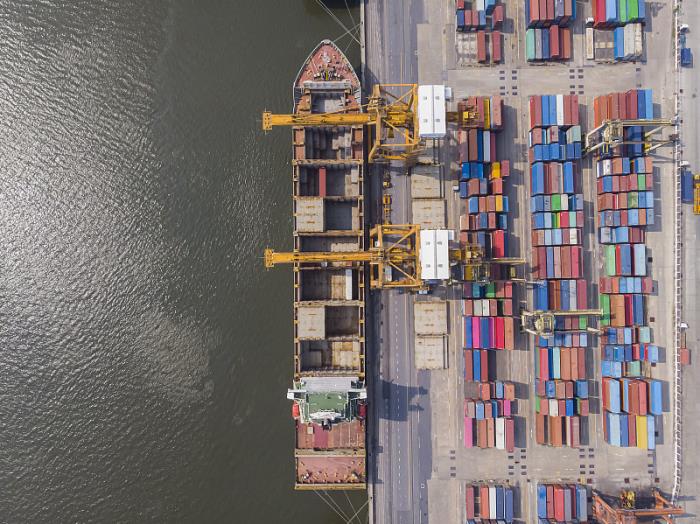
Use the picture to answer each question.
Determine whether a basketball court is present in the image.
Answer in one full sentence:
No, there appears to be no basketball court in this shot.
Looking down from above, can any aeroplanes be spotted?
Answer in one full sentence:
No, the frame has no aeroplane in it.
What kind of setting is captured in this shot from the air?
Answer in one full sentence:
What you see here is a port.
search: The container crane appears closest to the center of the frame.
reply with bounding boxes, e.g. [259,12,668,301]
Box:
[262,223,482,292]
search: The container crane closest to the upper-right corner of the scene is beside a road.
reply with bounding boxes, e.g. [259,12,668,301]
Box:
[581,119,673,157]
